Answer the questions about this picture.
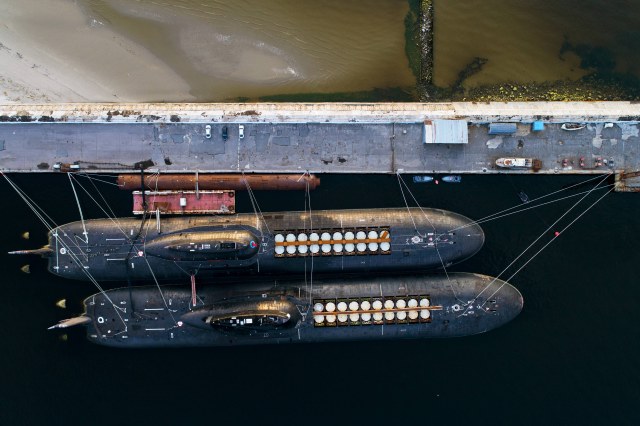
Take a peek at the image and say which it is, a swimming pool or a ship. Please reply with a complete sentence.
Visible in the photo is a ship.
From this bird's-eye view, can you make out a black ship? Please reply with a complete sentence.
Yes, there's a black ship here.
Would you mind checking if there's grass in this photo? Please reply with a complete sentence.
No, the scene doesn't show any grass.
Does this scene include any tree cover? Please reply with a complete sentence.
No, there is no tree cover in the image.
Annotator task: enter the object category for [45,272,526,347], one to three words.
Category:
ship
